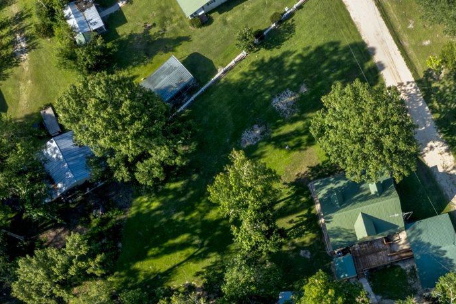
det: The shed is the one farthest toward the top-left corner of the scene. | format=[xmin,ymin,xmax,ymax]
[60,0,109,49]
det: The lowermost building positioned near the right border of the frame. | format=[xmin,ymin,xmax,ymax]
[404,212,456,288]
